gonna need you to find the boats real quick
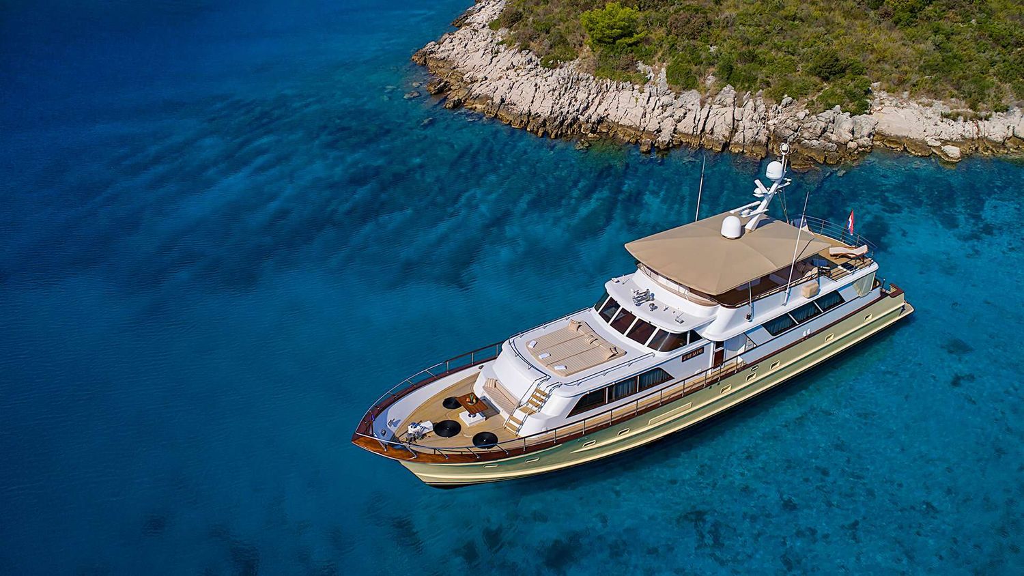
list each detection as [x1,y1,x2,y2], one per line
[347,146,909,497]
